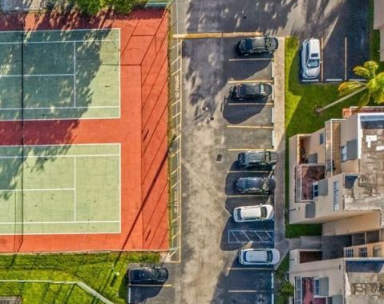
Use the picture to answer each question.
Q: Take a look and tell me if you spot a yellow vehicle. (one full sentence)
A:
No, no yellow vehicle is visible in the scene.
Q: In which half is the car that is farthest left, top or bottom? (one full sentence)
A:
The bottom half of the photo is where the car that is farthest left is.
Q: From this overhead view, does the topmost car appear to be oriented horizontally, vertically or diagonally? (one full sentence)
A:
What the image shows is the topmost car lying horizontally.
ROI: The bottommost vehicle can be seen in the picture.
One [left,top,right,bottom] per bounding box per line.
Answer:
[126,265,169,285]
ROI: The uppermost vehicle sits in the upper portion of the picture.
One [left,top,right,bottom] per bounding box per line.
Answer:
[237,36,278,56]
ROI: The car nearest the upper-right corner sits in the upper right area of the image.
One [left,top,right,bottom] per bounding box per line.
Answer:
[300,39,322,81]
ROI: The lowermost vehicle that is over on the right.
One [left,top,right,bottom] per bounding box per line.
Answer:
[237,247,281,266]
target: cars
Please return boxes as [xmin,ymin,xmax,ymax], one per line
[126,265,169,285]
[231,82,272,101]
[232,204,275,223]
[300,39,322,81]
[236,148,280,169]
[237,36,278,56]
[233,176,275,194]
[237,247,281,266]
